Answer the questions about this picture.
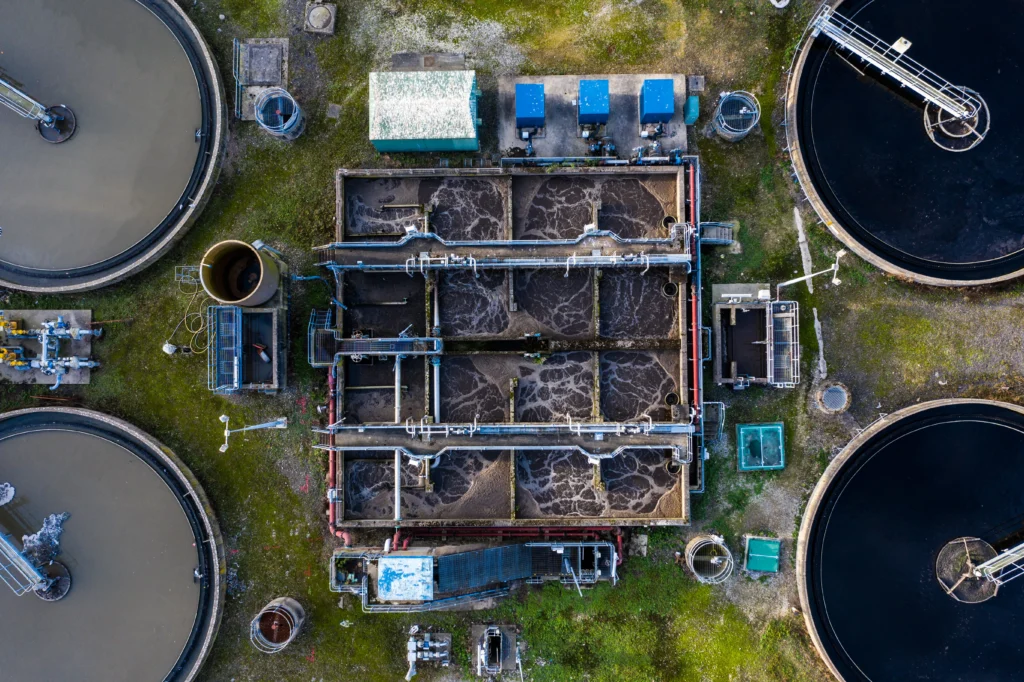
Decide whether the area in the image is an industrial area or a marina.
industrial area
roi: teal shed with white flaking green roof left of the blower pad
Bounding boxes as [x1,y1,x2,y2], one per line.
[369,71,484,151]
